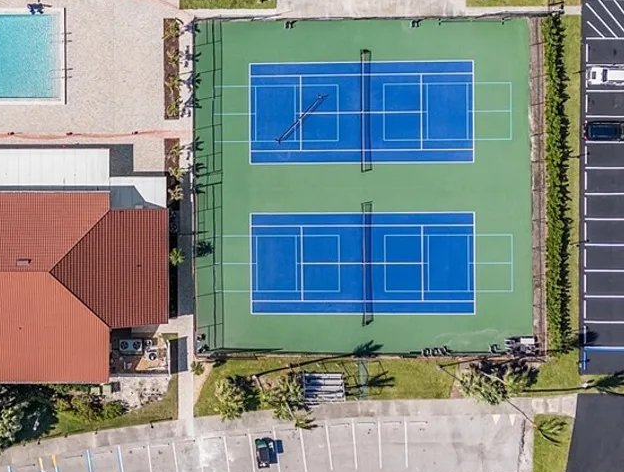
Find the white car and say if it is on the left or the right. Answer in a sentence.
The white car sits on the right side.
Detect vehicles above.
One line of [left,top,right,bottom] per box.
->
[582,121,624,141]
[257,438,273,467]
[584,64,624,86]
